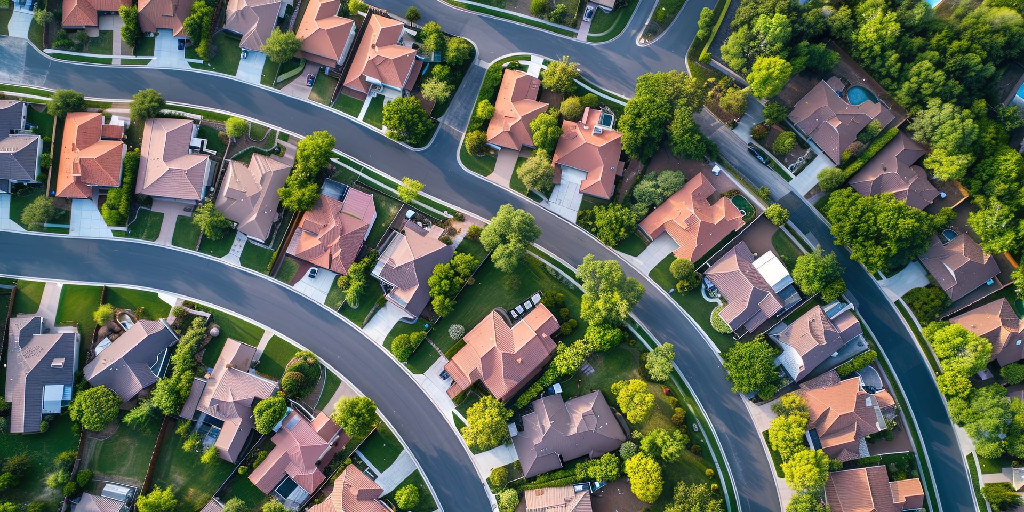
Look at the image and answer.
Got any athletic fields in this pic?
No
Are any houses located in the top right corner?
Yes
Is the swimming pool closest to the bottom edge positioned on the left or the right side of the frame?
left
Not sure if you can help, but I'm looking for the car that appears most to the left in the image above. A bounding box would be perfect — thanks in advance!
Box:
[176,38,188,55]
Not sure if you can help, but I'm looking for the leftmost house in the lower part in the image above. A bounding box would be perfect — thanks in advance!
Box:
[7,316,81,435]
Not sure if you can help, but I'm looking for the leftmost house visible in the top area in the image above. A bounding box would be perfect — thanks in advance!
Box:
[0,98,46,194]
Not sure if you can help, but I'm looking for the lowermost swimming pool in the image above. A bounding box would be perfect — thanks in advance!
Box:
[274,476,300,500]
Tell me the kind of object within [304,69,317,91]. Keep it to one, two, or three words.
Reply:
vehicle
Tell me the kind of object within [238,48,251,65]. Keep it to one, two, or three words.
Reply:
vehicle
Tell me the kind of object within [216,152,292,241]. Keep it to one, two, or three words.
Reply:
house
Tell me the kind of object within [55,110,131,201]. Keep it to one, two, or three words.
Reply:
house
